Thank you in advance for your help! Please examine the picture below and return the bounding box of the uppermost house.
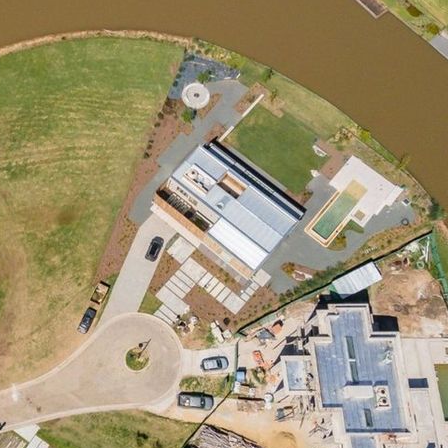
[150,136,309,275]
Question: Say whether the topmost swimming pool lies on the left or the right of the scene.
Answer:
right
